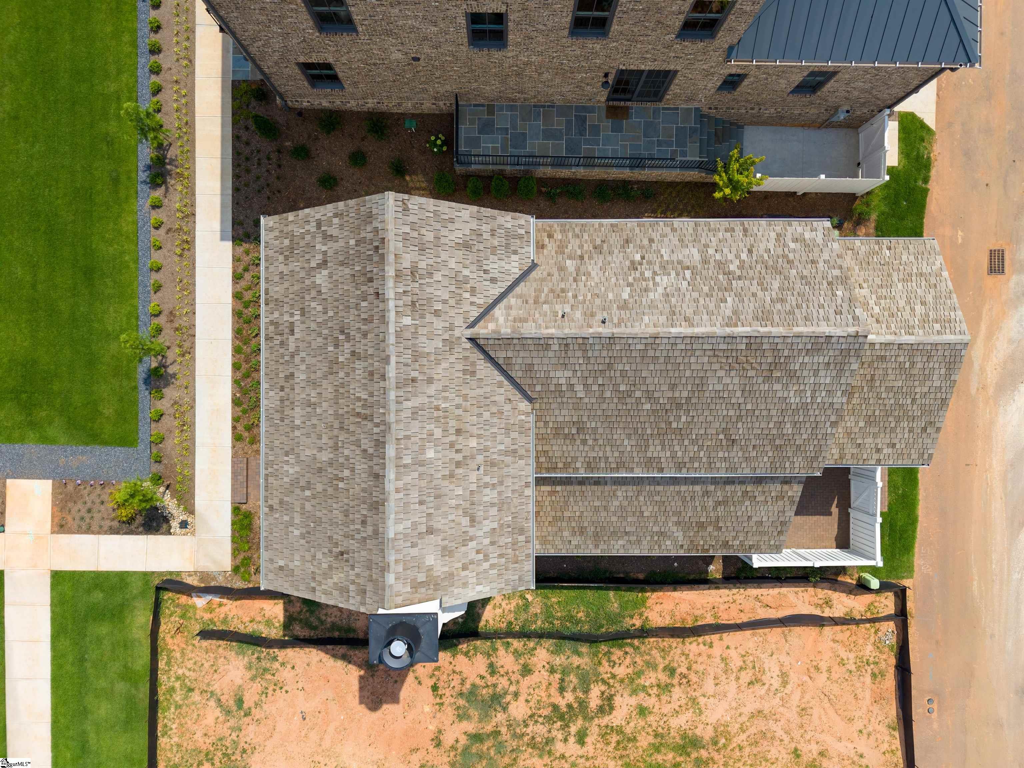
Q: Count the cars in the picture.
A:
0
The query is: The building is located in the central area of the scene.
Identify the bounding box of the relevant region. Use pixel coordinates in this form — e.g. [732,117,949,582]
[257,190,975,671]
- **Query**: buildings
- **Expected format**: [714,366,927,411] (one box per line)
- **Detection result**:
[257,190,975,671]
[201,0,983,131]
